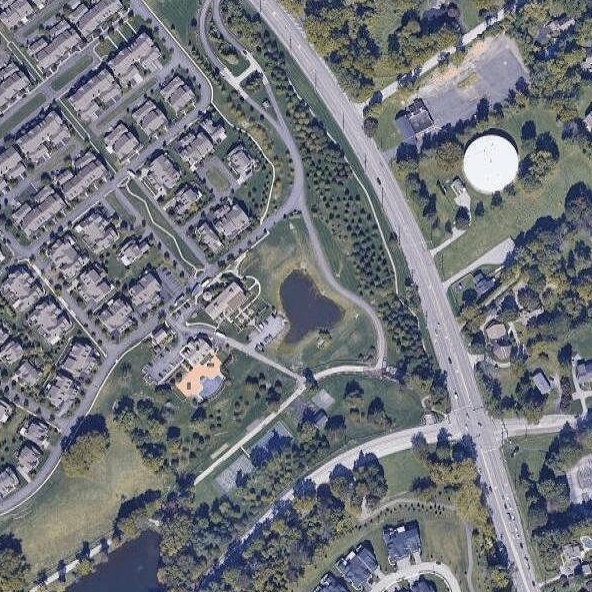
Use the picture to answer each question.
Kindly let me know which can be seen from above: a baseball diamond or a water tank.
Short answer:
water tank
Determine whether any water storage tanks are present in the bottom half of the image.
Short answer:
No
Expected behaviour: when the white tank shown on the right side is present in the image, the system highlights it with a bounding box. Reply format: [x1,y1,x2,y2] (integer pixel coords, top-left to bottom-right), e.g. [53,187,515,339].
[463,137,520,192]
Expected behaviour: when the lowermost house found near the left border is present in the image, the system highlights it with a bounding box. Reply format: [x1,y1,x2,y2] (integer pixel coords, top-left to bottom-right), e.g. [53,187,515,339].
[0,466,21,496]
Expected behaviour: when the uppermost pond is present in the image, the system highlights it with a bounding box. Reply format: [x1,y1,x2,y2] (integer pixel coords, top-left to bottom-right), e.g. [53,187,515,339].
[279,269,343,345]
